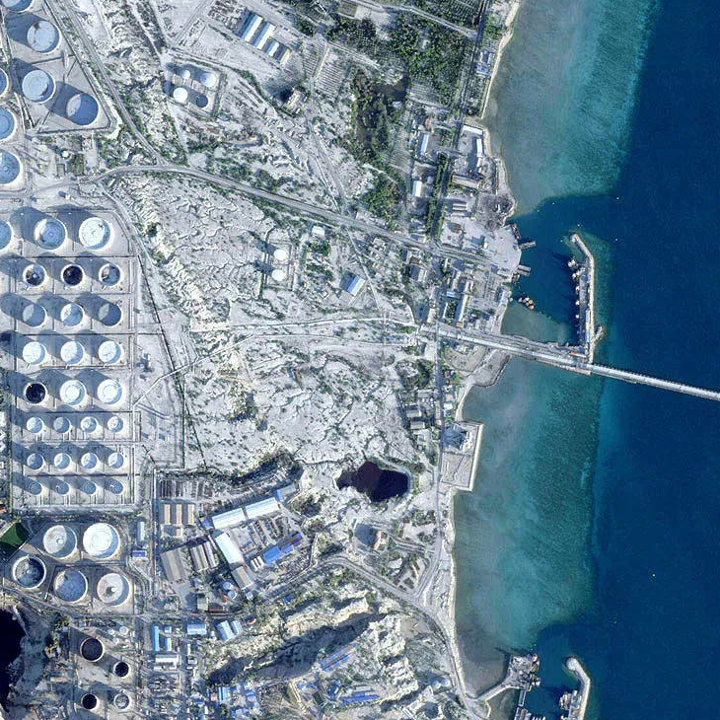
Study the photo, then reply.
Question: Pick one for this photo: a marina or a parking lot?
marina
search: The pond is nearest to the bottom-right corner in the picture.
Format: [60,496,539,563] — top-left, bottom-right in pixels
[336,461,409,503]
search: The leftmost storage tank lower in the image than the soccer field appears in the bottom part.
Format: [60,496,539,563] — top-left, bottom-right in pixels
[12,556,46,593]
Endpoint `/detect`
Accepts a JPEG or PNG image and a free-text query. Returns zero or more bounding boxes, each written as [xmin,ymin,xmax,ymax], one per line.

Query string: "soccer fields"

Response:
[0,522,30,556]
